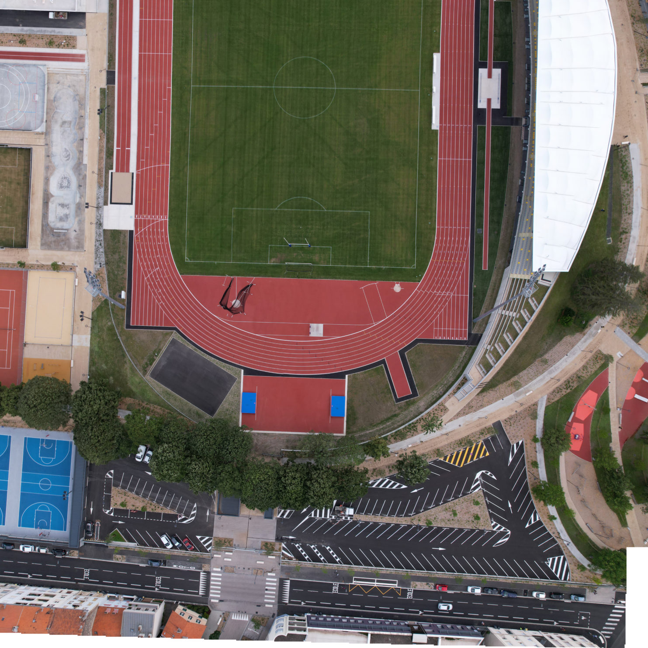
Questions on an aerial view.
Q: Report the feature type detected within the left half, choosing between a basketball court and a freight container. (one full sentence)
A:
It is a basketball court that can be seen within the left half.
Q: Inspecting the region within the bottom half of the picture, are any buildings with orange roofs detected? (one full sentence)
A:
Yes, I can see a building with an orange roof within the bottom half of the picture.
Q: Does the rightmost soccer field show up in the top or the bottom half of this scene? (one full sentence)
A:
You can find the rightmost soccer field in the top half.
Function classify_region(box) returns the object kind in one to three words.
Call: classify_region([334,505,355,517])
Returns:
vehicle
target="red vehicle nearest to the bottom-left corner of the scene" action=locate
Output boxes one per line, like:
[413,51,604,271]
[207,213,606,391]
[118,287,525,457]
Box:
[182,537,195,551]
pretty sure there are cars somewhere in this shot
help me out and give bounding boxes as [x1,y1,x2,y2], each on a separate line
[86,521,94,537]
[532,590,546,599]
[483,587,498,597]
[550,591,565,601]
[1,542,15,550]
[35,545,49,554]
[20,544,35,553]
[160,533,173,550]
[170,534,182,549]
[468,585,482,593]
[148,558,163,568]
[569,593,586,602]
[143,450,153,464]
[136,446,144,462]
[437,602,453,612]
[51,547,67,557]
[435,584,449,592]
[182,537,195,551]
